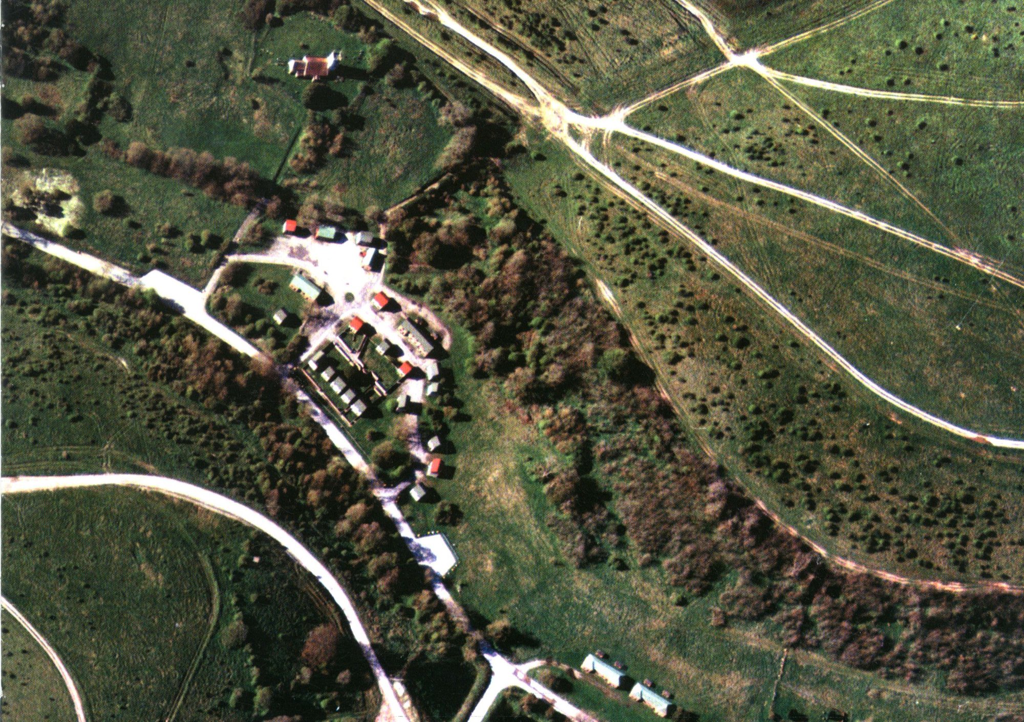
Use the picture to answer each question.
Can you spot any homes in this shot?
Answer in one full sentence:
Yes, the frame does contain a home.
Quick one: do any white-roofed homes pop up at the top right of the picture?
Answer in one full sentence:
No, at the top right of the picture there is no white-roofed home.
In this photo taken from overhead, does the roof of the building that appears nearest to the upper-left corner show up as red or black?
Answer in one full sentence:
The roof of the building that appears nearest to the upper-left corner is red.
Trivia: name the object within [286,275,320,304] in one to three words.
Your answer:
house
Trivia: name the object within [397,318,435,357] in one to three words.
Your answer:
house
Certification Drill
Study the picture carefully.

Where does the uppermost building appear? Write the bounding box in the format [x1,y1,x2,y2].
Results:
[291,56,342,87]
